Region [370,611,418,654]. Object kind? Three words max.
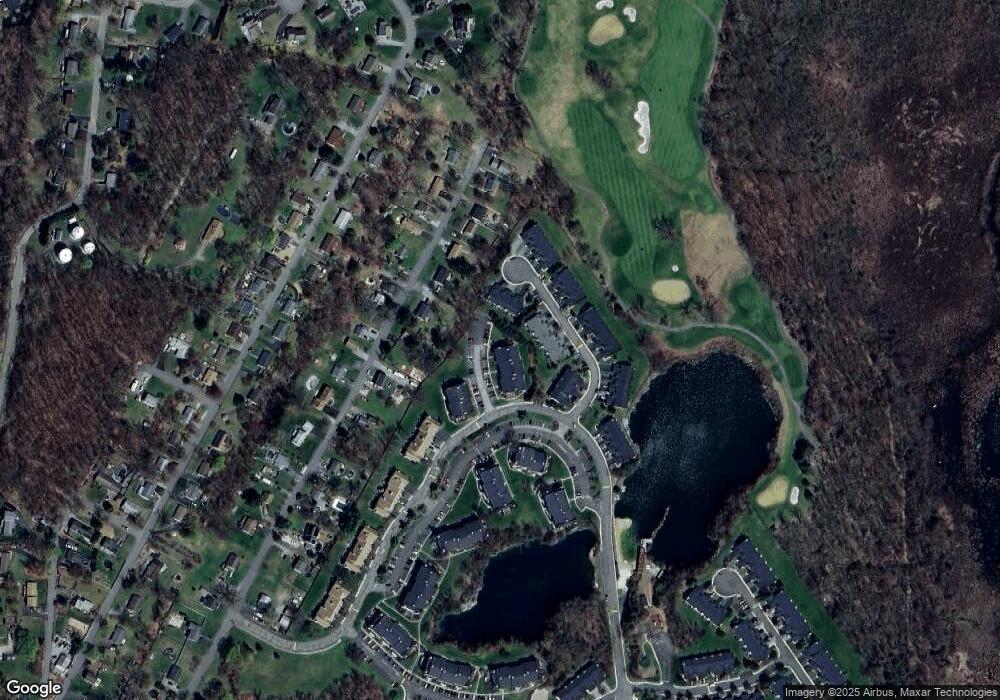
building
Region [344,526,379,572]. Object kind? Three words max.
building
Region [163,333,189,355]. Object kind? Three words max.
house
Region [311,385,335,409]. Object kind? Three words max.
house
